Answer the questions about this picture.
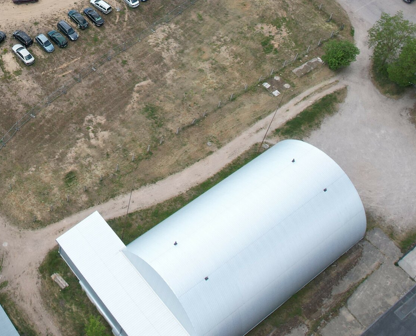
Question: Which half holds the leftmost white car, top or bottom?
top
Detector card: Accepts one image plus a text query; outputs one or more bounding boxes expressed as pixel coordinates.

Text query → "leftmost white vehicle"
[12,45,36,68]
